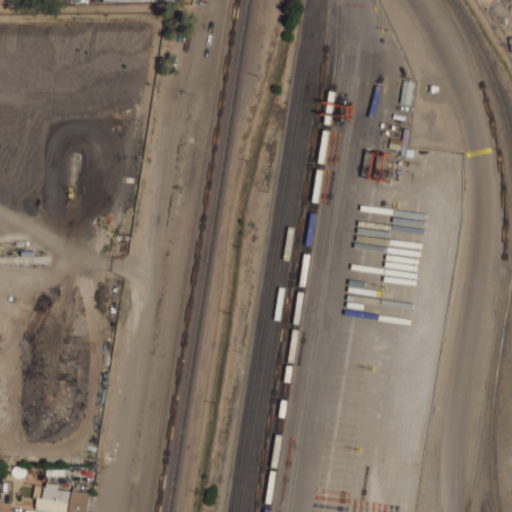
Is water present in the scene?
No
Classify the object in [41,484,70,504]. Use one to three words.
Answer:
house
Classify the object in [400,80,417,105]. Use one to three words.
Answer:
building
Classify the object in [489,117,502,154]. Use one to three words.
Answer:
rail car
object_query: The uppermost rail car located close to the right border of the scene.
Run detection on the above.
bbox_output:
[480,83,494,118]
